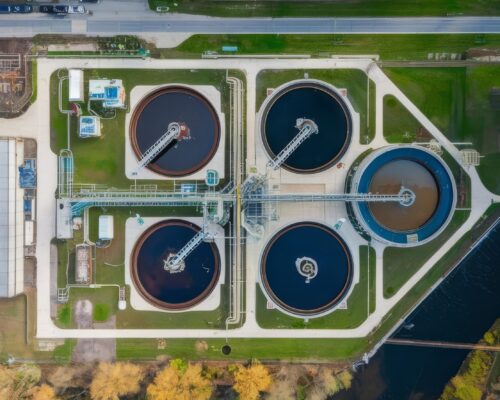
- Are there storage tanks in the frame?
Yes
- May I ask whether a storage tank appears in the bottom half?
Yes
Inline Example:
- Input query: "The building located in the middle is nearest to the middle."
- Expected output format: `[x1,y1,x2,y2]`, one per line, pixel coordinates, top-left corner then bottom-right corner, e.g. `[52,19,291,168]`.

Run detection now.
[244,175,279,226]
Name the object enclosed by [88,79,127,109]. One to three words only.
building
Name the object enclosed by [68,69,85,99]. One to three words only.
shed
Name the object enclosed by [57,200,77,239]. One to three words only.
house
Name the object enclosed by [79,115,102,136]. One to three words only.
building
